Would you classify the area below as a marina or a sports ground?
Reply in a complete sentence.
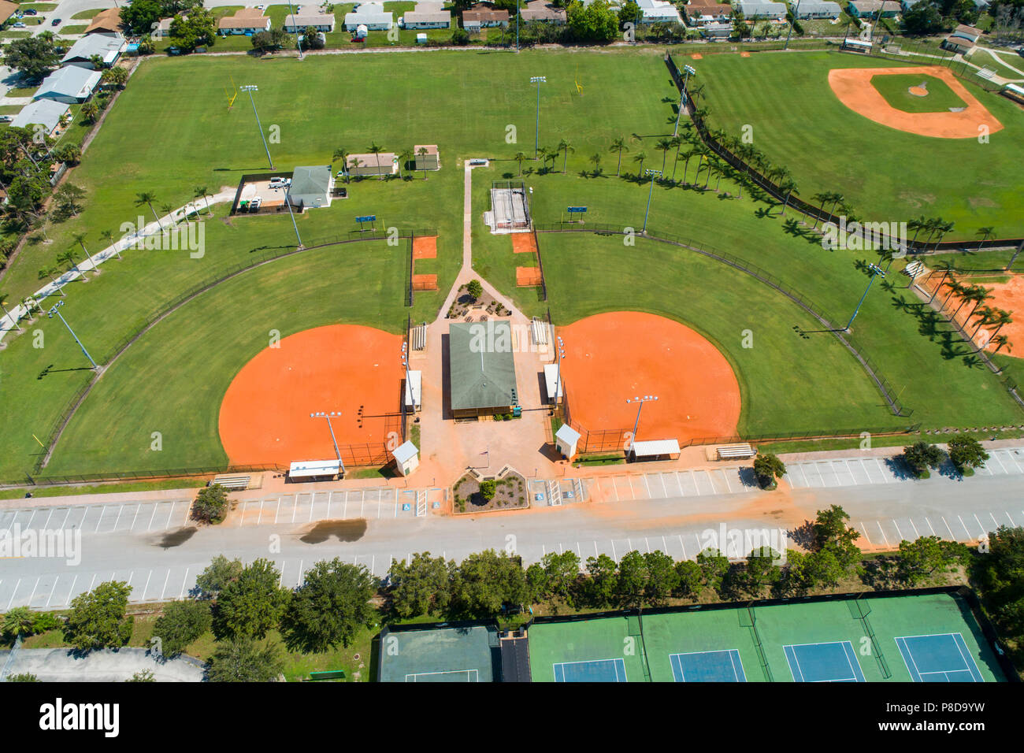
This image shows a sports ground.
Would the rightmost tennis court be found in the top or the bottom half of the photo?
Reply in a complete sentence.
You can find the rightmost tennis court in the bottom half.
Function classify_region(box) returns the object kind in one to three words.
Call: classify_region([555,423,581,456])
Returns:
shed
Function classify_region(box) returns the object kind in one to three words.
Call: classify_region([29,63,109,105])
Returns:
house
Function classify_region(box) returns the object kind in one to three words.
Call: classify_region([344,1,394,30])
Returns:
house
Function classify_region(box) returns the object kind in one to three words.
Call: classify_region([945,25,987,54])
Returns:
building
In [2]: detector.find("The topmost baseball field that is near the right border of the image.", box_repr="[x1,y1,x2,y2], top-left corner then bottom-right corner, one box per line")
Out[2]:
[669,51,1024,238]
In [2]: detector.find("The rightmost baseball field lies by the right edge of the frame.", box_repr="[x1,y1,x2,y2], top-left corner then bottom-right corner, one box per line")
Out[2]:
[927,270,1024,363]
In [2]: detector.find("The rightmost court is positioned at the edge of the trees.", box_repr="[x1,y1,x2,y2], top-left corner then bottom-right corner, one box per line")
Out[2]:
[856,591,1024,753]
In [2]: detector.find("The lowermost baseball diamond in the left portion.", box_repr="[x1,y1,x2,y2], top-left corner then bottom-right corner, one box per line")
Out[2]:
[36,236,412,483]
